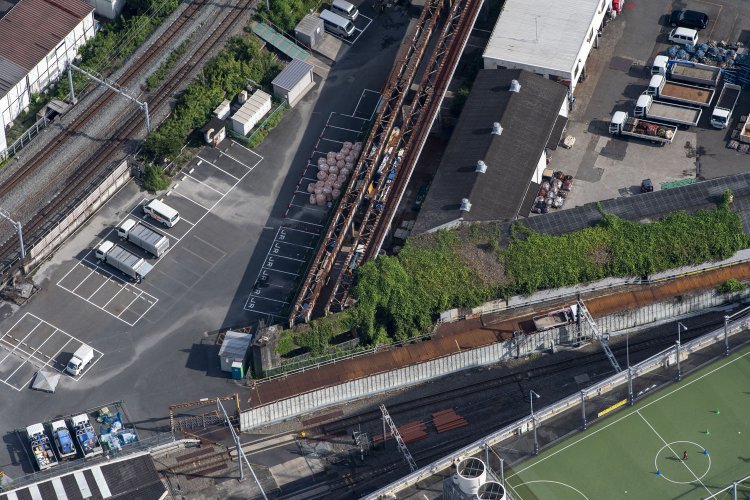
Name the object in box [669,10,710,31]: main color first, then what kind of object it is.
black car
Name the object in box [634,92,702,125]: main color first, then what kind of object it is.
gray truck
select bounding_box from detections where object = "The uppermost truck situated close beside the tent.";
[66,337,97,372]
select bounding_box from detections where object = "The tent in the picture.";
[32,373,62,397]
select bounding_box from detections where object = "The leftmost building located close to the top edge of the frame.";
[0,0,97,131]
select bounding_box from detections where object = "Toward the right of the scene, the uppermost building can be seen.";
[479,0,611,114]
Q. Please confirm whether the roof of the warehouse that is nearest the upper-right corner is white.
Yes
